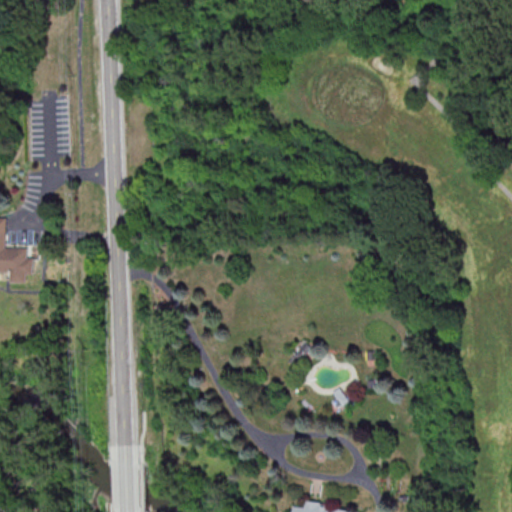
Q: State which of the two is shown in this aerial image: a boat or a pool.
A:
pool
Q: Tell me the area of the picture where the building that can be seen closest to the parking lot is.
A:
left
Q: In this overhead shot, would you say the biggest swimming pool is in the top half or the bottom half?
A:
bottom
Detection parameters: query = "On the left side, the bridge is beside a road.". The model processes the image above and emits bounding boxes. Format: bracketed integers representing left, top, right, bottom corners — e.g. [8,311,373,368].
[106,445,154,512]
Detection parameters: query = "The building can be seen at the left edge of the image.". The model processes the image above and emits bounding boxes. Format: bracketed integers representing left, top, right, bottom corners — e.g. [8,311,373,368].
[0,218,40,283]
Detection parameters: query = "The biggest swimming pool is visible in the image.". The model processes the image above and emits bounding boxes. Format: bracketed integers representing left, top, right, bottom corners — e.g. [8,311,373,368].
[306,354,358,394]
